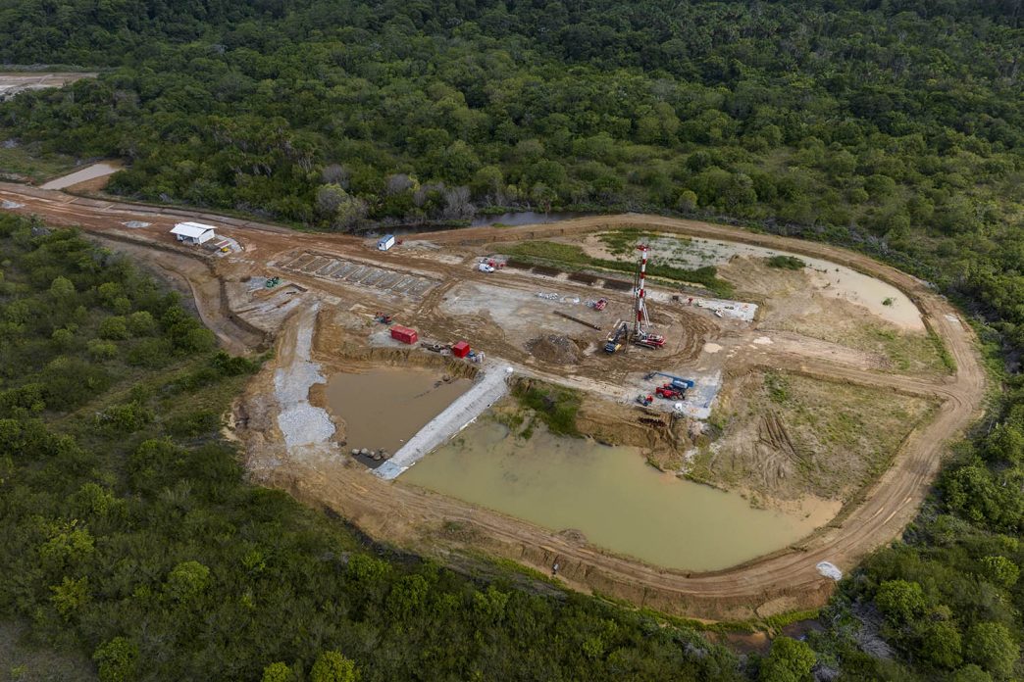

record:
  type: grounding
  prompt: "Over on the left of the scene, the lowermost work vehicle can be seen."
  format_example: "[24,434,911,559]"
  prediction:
[377,311,390,323]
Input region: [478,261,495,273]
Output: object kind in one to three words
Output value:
vehicle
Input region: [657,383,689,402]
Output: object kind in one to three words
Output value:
work vehicle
